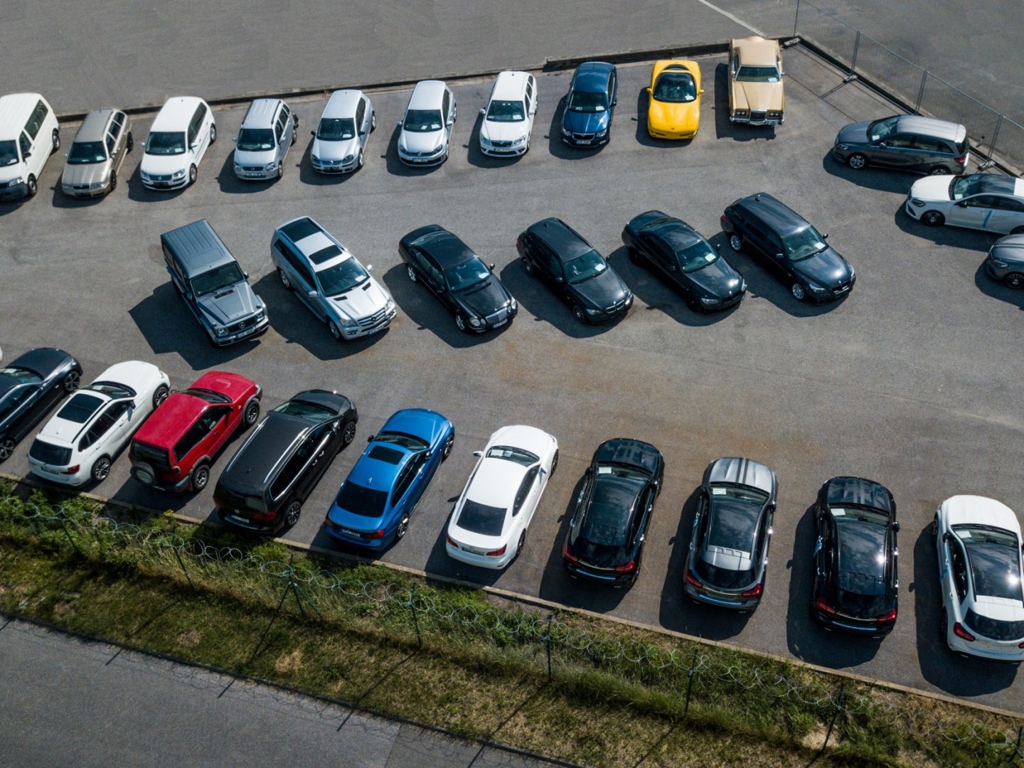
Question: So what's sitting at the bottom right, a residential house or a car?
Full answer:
Looking at the bottom right, you will find a car.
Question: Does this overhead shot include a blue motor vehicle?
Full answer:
Yes, I can see a blue motor vehicle in this picture.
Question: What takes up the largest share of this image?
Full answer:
For the most part, this view shows paved ground.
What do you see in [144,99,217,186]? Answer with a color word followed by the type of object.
white car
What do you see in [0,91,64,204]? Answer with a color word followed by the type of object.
white van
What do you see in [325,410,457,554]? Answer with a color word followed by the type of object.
blue car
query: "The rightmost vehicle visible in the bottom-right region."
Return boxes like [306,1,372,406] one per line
[936,498,1024,660]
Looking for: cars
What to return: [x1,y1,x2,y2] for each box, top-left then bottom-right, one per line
[267,217,395,344]
[158,218,275,354]
[562,438,659,584]
[446,424,563,571]
[0,345,85,462]
[398,79,458,164]
[725,36,789,126]
[903,173,1024,236]
[127,372,270,500]
[983,236,1024,290]
[311,89,377,174]
[25,362,172,491]
[617,209,747,317]
[210,389,361,541]
[811,479,903,635]
[144,99,217,186]
[512,216,632,326]
[60,97,137,197]
[233,99,301,182]
[561,62,619,146]
[685,459,780,610]
[325,410,457,554]
[717,191,853,303]
[936,498,1024,660]
[480,68,540,156]
[834,116,964,178]
[396,225,517,335]
[645,63,707,139]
